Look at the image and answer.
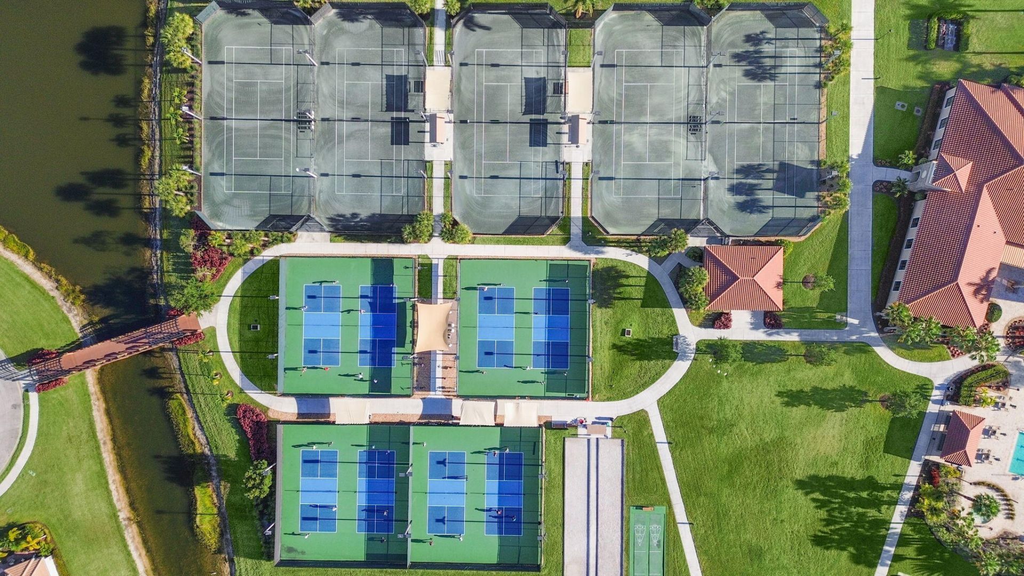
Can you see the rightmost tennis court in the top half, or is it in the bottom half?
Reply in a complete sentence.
Seen from above, the rightmost tennis court lies in the top half of the view.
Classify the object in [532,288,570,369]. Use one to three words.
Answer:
sports court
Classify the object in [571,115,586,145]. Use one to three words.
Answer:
shed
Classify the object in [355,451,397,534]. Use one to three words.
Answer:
sports court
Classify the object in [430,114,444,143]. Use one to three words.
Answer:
shed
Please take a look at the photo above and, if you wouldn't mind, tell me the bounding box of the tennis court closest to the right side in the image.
[705,11,822,234]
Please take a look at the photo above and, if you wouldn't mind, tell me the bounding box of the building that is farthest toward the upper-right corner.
[889,79,1024,328]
